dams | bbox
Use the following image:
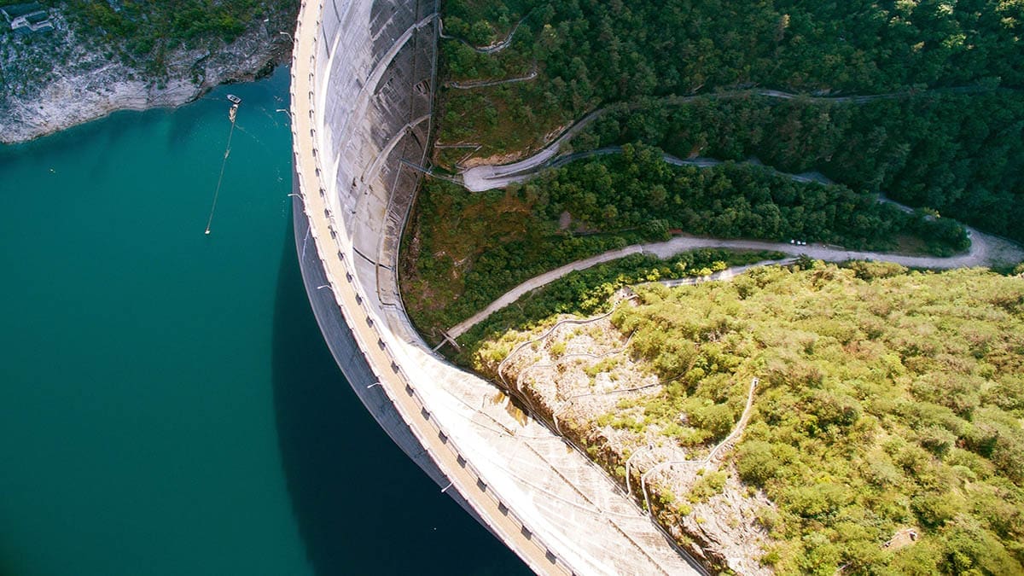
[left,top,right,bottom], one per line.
[287,0,711,576]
